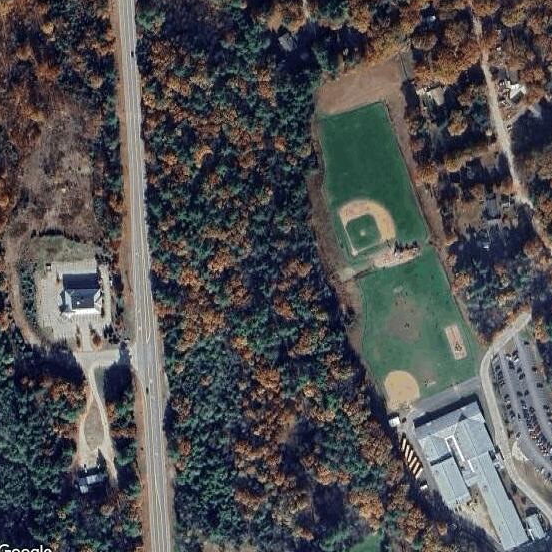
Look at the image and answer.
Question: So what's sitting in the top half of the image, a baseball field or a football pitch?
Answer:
baseball field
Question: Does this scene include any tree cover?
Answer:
Yes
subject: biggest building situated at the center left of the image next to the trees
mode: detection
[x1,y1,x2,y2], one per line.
[64,288,101,316]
